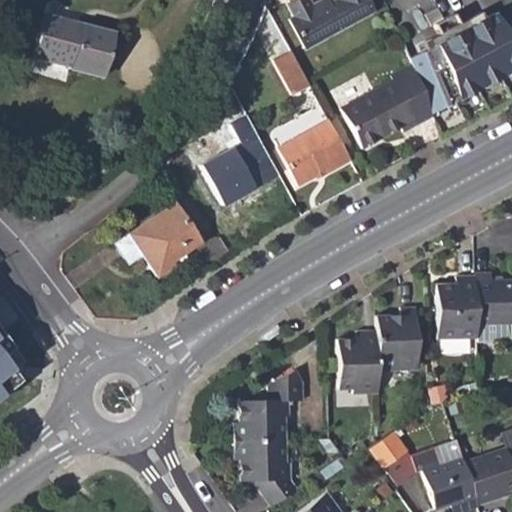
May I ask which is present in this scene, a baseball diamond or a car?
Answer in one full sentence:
There is a car in the scene.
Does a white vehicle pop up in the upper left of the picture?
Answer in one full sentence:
No, in the upper left of the picture there is no white vehicle.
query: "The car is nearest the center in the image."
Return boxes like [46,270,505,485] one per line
[220,272,242,290]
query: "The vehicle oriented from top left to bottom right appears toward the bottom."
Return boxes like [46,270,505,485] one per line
[195,481,214,502]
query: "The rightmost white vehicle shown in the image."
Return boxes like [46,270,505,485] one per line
[486,120,512,140]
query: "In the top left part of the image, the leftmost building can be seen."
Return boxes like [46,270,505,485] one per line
[40,16,119,80]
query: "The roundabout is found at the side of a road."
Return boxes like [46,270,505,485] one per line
[45,327,190,458]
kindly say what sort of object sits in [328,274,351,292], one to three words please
car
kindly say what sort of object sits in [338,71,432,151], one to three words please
house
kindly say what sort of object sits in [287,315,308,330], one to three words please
car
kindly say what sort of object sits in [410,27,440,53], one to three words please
shed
